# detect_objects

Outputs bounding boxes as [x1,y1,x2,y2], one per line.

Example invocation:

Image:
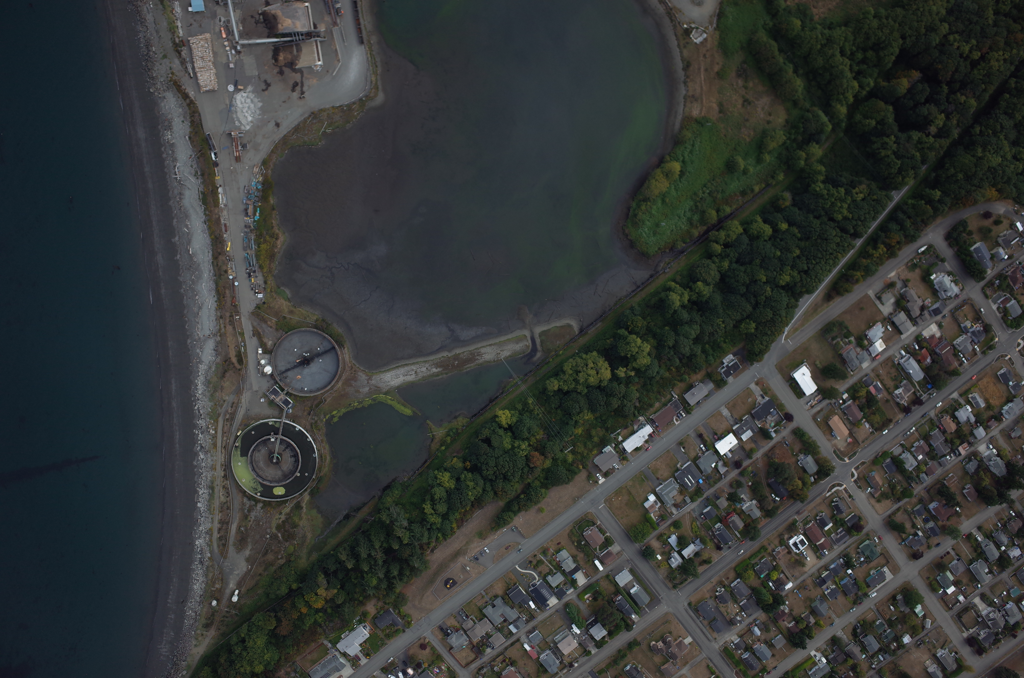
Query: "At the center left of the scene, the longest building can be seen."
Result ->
[263,385,292,409]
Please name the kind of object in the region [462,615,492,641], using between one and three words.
house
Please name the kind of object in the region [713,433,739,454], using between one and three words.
house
